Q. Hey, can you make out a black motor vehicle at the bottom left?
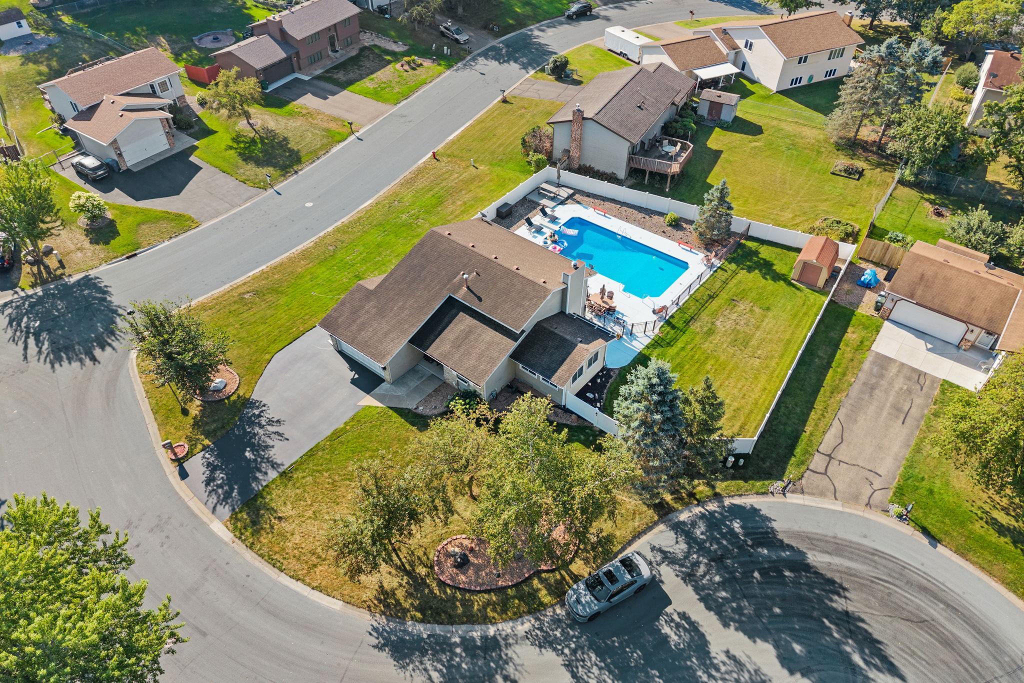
No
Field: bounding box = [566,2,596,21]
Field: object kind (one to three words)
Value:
car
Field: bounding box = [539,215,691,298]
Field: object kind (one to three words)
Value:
swimming pool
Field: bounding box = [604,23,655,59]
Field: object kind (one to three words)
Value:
trailer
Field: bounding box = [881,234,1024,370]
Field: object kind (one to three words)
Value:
house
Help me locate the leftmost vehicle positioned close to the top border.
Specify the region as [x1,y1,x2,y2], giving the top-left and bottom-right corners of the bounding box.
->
[439,21,467,42]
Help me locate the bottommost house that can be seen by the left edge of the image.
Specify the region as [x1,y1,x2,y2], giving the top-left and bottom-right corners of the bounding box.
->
[34,47,187,170]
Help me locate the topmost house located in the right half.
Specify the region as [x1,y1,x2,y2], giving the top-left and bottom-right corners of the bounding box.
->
[640,4,865,90]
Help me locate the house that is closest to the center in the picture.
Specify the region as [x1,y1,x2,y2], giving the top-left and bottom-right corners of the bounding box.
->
[315,207,619,408]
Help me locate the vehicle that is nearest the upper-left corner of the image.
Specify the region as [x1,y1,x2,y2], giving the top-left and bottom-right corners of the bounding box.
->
[71,151,108,177]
